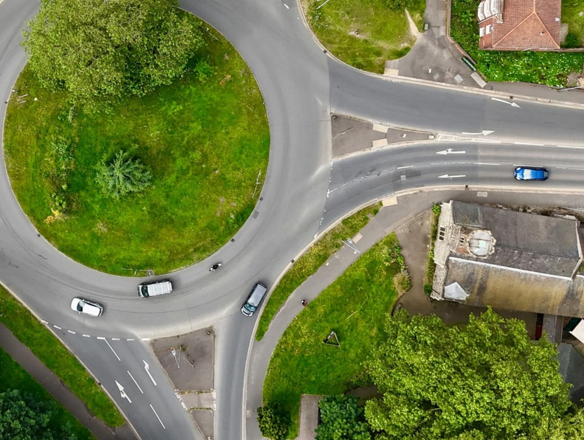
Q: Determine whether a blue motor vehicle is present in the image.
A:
Yes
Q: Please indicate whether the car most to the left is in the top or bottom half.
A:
bottom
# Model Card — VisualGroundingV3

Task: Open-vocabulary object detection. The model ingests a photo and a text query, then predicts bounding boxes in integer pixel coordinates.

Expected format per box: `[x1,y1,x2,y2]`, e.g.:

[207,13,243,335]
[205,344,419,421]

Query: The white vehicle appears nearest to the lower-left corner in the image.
[70,296,104,317]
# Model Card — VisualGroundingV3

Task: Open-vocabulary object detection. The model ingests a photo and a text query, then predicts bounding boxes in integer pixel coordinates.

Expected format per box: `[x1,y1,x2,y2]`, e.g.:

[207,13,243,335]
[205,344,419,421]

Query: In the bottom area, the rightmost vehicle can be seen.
[242,280,267,317]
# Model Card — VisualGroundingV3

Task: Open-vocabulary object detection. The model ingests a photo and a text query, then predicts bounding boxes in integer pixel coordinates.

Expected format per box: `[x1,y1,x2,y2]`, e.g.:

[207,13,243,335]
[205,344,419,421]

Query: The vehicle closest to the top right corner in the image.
[513,165,549,182]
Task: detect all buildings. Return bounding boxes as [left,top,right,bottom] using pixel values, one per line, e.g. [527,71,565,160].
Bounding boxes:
[428,199,584,316]
[474,0,562,53]
[538,339,584,408]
